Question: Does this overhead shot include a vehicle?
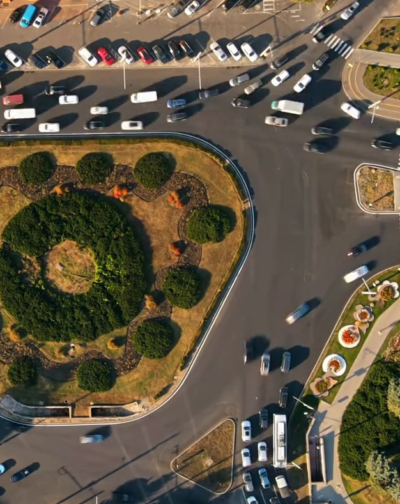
Yes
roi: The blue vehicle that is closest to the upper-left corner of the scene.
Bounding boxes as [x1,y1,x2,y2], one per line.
[20,2,36,28]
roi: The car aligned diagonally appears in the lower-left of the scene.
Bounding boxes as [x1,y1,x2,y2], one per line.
[13,466,34,482]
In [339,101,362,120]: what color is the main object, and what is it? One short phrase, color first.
white car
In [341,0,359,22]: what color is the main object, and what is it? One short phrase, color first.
gray car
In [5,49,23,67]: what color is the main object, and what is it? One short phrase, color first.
white car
